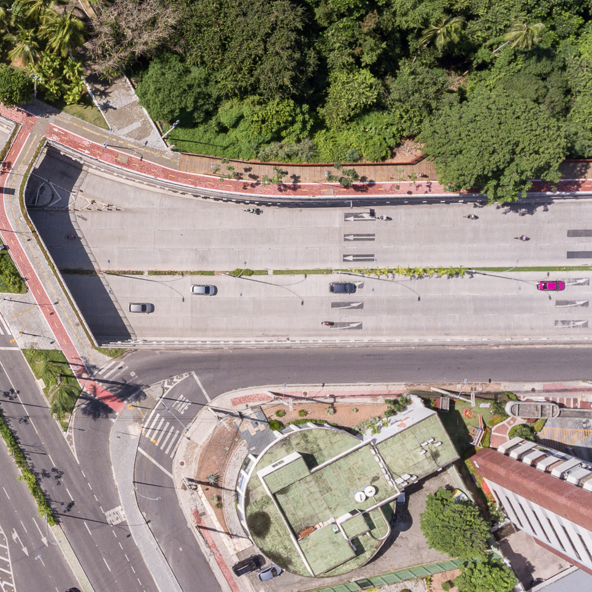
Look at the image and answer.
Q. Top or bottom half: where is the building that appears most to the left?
bottom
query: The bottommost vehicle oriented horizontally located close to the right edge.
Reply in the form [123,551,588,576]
[536,279,563,292]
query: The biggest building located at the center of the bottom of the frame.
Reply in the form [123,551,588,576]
[230,417,403,580]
